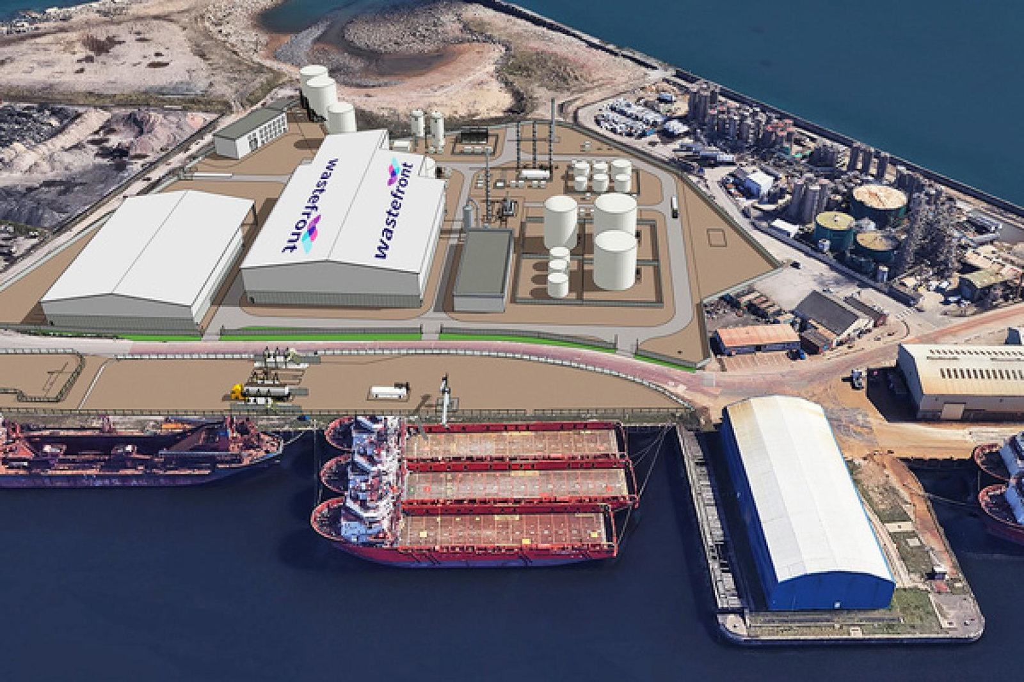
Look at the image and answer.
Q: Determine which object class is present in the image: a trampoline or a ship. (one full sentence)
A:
This aerial view contains a ship.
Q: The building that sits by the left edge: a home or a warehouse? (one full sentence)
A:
It looks like the building that sits by the left edge is a warehouse.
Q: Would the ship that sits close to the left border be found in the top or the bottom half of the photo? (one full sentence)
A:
The ship that sits close to the left border sits in the bottom half of the picture.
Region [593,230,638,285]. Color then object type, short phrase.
white storage tank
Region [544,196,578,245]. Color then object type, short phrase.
white storage tank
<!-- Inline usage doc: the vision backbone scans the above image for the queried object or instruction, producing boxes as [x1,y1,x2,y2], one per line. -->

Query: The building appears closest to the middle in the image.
[454,225,512,315]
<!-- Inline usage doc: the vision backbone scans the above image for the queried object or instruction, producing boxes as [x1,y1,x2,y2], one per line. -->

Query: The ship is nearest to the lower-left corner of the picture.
[0,406,282,486]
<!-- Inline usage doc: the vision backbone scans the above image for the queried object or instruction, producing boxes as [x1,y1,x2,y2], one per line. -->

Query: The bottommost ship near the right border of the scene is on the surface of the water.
[977,485,1024,548]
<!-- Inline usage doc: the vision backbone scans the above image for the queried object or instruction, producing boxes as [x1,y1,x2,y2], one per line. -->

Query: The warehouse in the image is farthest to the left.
[39,189,255,331]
